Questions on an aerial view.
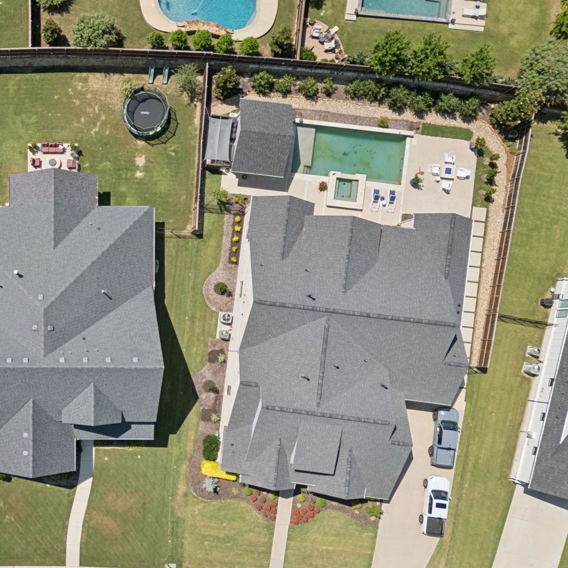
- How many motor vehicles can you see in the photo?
2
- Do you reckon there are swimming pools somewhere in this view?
Yes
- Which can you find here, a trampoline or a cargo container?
trampoline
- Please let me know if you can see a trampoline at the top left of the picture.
Yes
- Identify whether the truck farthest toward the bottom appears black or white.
white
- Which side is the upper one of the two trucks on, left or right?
right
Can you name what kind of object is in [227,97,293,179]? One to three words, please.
building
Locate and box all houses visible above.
[0,168,164,479]
[218,195,473,500]
[503,278,568,498]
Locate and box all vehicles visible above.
[427,405,460,471]
[418,473,453,540]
